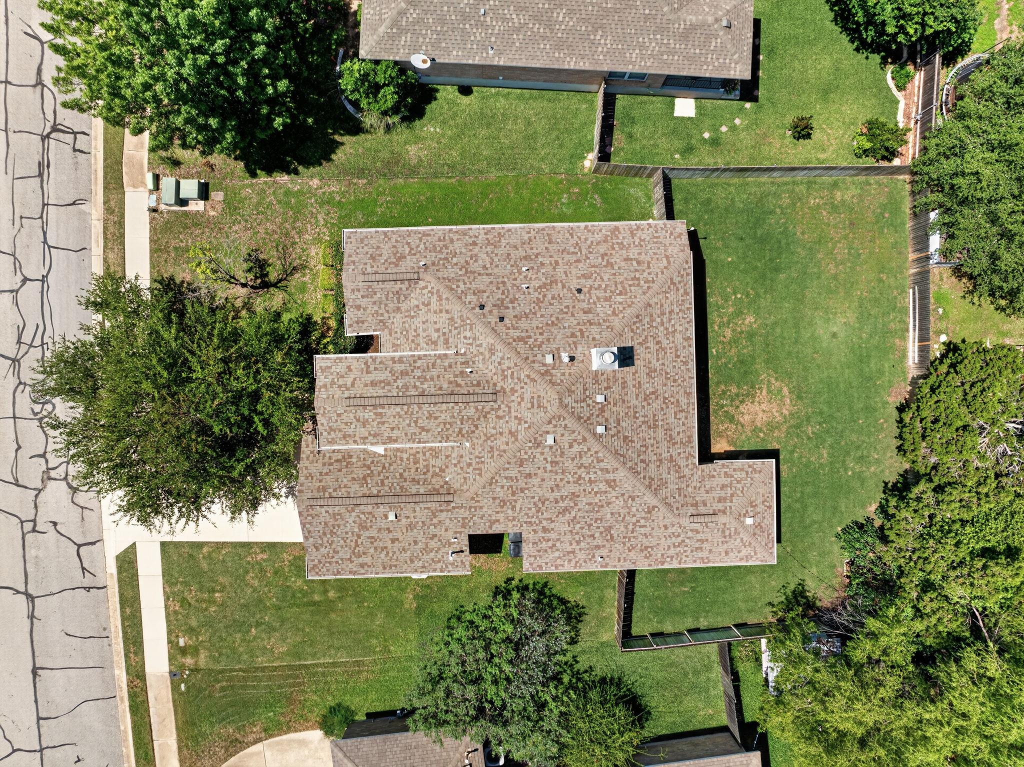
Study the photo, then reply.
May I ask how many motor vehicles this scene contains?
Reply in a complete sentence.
The count of motor vehicles is 0.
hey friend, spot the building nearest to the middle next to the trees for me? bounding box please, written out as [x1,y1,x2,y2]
[296,218,779,581]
